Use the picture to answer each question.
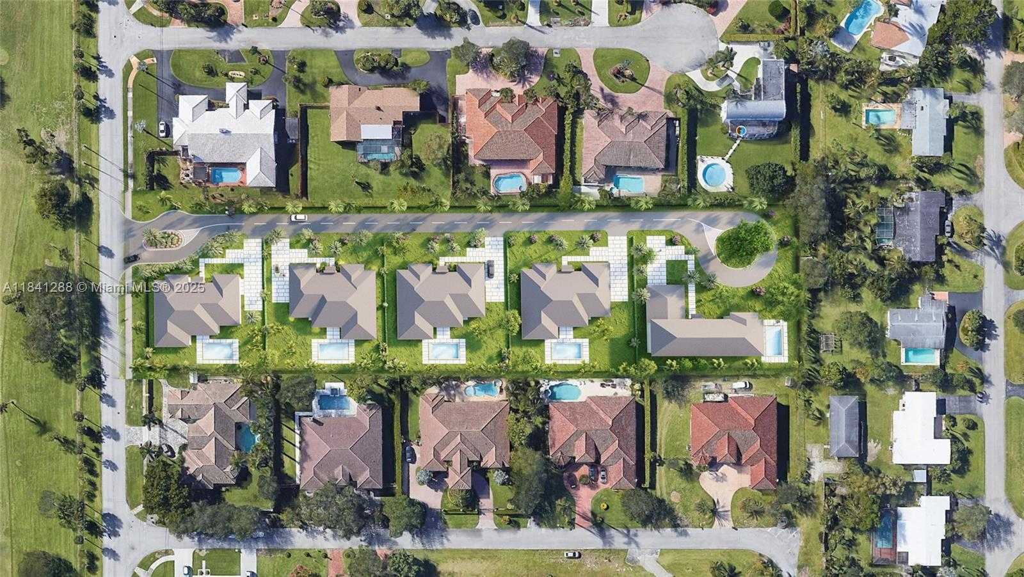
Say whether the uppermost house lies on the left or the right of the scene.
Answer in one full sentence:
The uppermost house sits on the right side.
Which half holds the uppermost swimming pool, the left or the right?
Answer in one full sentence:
The uppermost swimming pool appears in the right half of the scene.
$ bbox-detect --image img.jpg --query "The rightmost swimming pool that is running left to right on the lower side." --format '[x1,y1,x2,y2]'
[905,349,936,364]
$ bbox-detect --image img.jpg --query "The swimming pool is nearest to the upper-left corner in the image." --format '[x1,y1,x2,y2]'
[211,166,242,185]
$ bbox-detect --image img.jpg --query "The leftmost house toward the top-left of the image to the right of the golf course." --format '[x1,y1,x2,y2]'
[173,82,276,187]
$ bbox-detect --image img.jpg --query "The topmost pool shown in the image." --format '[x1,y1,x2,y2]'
[844,0,883,35]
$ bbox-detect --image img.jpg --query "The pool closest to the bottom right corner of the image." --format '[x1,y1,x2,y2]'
[876,511,894,549]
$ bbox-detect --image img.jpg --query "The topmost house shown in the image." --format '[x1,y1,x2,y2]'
[872,0,946,57]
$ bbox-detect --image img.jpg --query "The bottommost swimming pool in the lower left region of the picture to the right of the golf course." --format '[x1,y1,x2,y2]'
[234,421,258,453]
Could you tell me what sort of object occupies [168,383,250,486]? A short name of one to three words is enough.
house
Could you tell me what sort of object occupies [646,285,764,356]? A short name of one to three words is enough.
house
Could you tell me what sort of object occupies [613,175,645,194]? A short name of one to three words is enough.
swimming pool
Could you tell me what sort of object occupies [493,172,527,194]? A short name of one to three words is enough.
swimming pool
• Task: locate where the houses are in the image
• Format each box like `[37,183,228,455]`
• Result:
[168,383,250,486]
[173,82,276,187]
[521,262,610,339]
[901,88,949,156]
[397,263,485,339]
[896,496,950,567]
[420,393,510,491]
[466,89,558,174]
[721,60,787,122]
[646,285,764,356]
[892,392,951,464]
[830,396,858,457]
[893,191,945,261]
[691,397,778,490]
[583,110,666,184]
[153,272,242,348]
[288,263,377,339]
[549,396,636,490]
[330,86,420,141]
[888,297,945,349]
[872,0,946,57]
[300,404,382,488]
